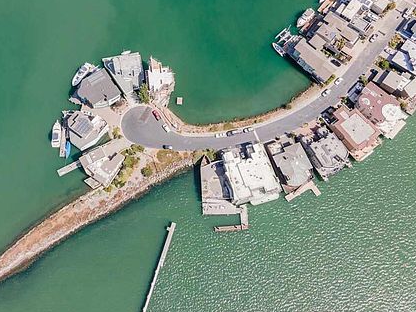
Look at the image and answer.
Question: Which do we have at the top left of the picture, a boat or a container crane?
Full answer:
It is a boat that can be seen at the top left of the picture.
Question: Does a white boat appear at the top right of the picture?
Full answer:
Yes, a white boat shows up at the top right of the picture.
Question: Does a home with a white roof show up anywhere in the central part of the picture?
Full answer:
Yes, I can see a home with a white roof in the central part of the picture.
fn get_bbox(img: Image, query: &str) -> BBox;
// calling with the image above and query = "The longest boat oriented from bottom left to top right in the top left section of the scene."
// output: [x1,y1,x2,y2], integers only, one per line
[73,62,91,85]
